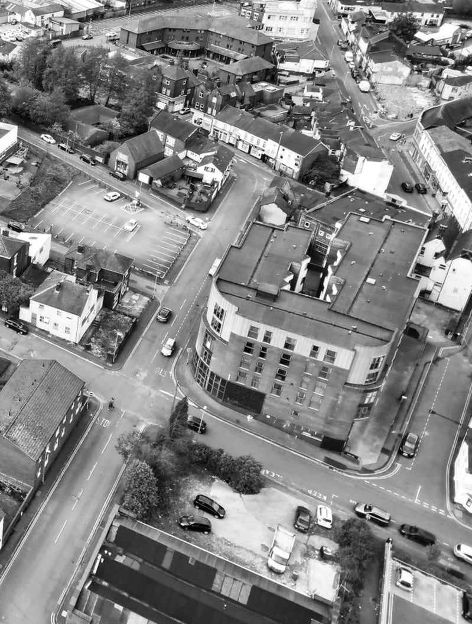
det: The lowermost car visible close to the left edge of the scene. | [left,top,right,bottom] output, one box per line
[3,320,30,336]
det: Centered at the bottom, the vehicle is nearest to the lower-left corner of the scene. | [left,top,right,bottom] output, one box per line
[177,515,213,536]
